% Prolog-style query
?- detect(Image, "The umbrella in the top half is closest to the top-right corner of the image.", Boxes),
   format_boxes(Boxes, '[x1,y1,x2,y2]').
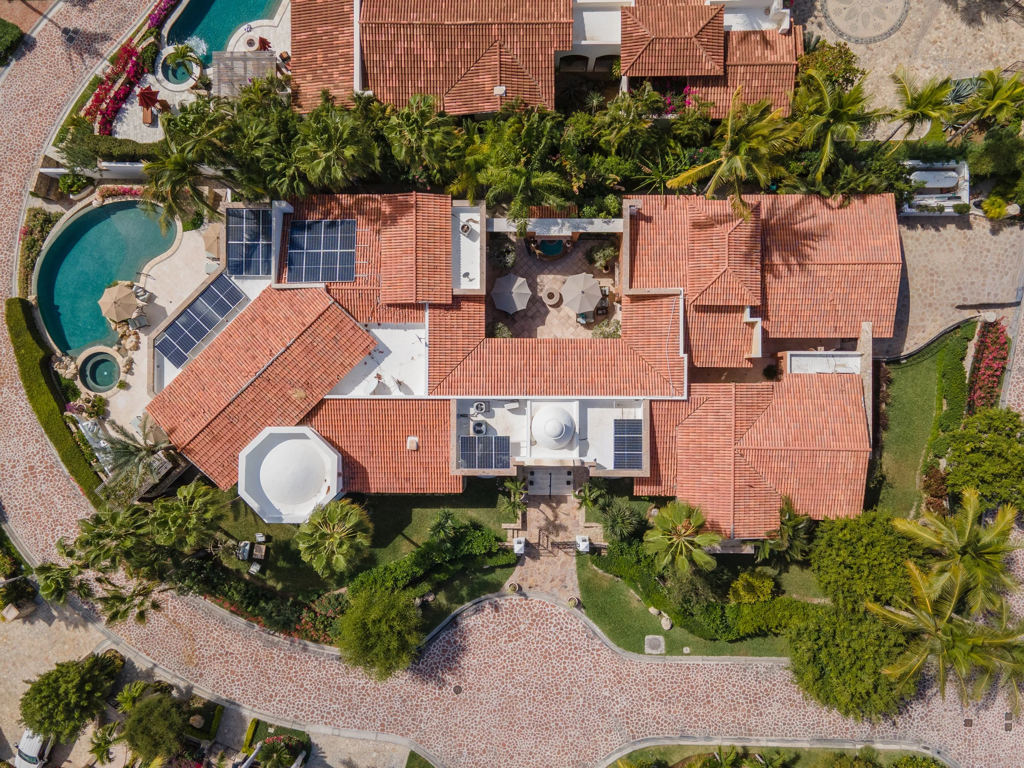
[561,272,602,313]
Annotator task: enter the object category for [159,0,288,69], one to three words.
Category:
swimming pool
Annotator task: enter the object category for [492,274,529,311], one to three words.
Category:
umbrella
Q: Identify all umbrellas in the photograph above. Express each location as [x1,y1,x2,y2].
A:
[561,272,602,313]
[492,274,529,311]
[100,283,141,323]
[199,218,220,259]
[256,36,280,64]
[137,87,163,114]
